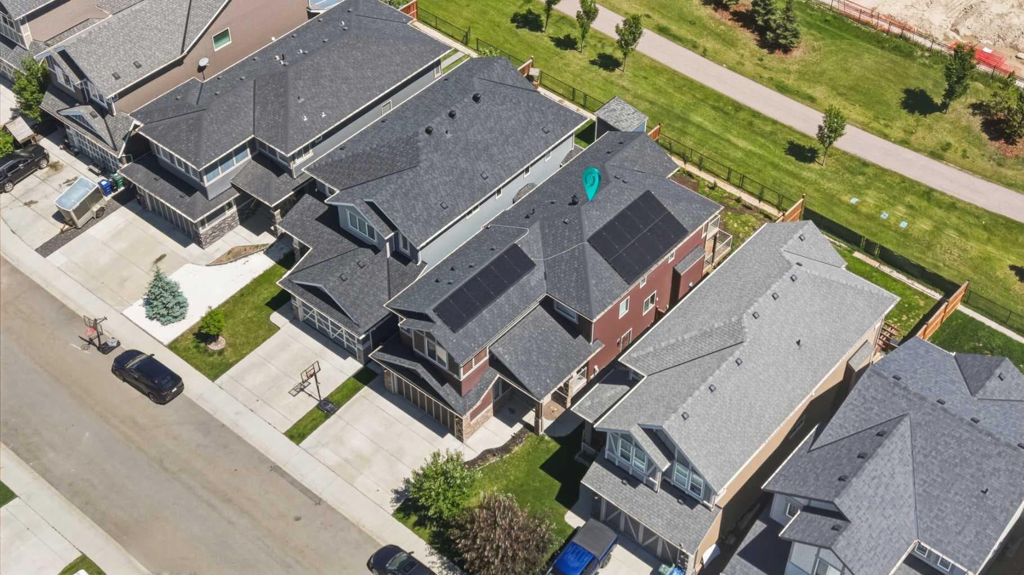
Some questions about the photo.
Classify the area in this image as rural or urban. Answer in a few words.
urban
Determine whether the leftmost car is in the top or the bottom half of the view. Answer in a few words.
top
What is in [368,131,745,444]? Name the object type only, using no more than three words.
house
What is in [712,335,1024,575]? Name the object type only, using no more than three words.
house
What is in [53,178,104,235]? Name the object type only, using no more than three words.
trailer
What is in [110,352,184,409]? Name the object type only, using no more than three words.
car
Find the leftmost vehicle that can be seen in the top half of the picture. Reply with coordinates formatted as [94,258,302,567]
[0,143,50,189]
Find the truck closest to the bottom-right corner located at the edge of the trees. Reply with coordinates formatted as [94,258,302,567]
[536,519,623,575]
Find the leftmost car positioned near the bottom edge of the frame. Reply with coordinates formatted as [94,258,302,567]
[370,545,435,575]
